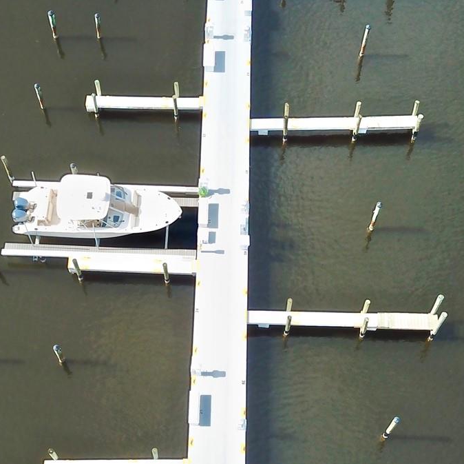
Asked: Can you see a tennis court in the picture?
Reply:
No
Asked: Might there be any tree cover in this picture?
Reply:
No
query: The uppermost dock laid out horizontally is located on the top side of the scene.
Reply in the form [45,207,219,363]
[85,96,203,113]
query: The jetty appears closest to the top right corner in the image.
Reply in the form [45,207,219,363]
[250,116,417,137]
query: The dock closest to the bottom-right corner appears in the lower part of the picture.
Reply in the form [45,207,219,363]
[248,310,435,334]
